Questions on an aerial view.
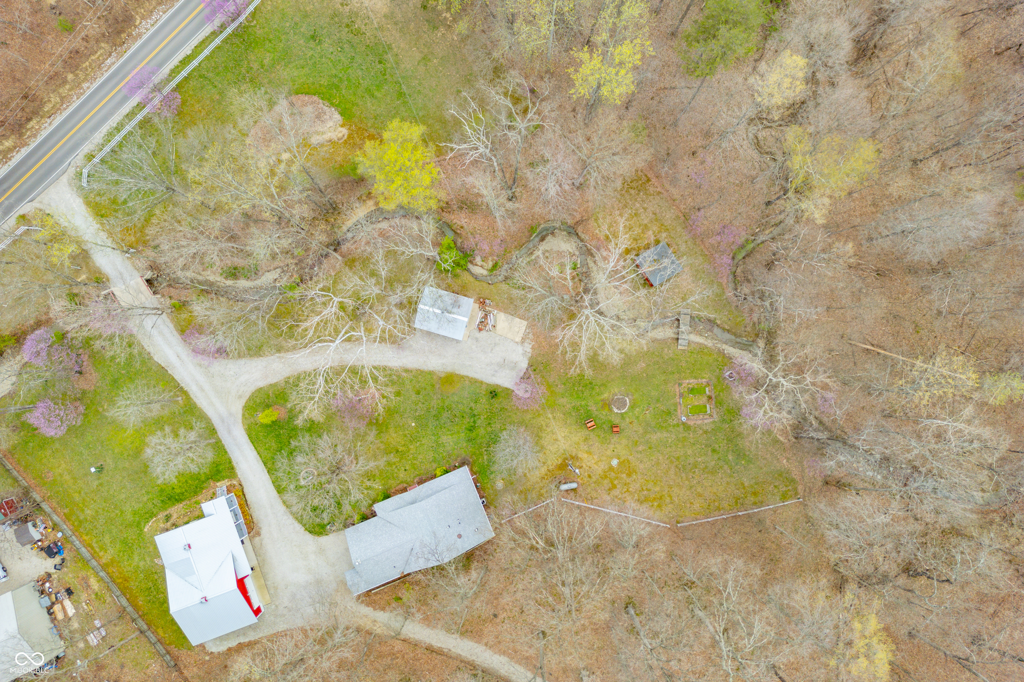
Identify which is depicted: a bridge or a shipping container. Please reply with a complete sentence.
It is a bridge that can be seen here.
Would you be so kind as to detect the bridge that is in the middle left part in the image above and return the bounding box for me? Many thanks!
[101,274,158,309]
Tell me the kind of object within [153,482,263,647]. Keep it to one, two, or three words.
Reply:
house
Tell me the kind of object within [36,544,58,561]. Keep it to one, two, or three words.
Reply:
vehicle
